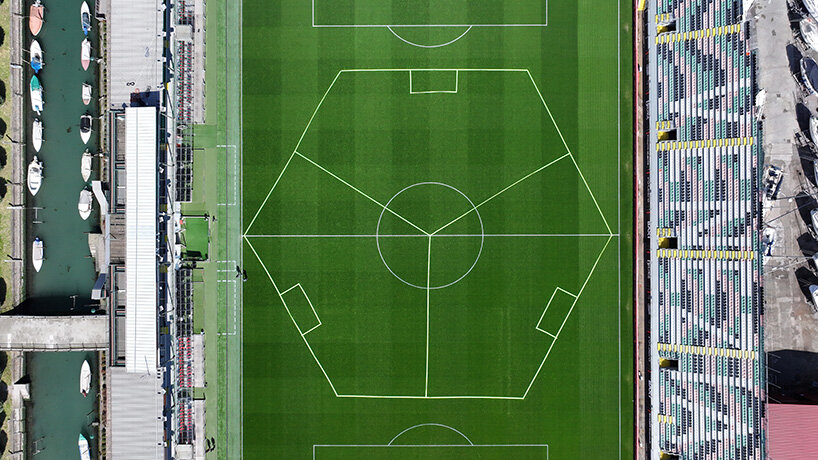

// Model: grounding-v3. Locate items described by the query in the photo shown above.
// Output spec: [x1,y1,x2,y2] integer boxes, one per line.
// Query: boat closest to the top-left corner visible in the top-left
[30,2,44,38]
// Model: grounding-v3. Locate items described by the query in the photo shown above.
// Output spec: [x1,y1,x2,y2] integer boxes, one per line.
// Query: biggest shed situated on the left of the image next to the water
[92,272,109,299]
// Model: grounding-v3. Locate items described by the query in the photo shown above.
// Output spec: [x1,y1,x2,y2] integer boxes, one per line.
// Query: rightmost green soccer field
[240,0,632,460]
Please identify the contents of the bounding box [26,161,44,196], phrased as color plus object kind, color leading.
white boat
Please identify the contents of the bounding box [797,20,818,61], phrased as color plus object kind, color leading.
white boat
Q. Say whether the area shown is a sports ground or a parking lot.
sports ground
